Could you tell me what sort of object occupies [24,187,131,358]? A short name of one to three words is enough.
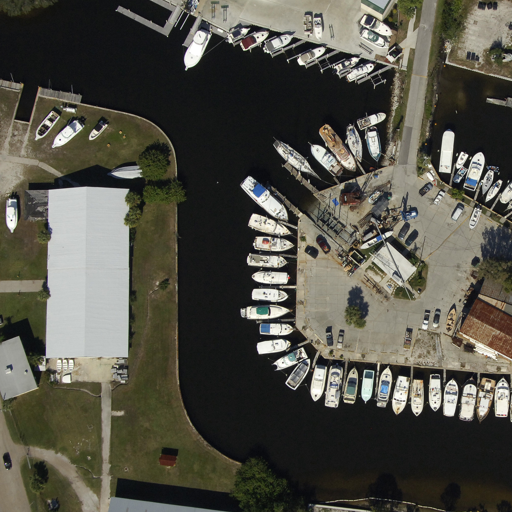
building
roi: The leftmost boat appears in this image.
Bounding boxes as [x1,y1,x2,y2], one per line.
[6,195,19,234]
